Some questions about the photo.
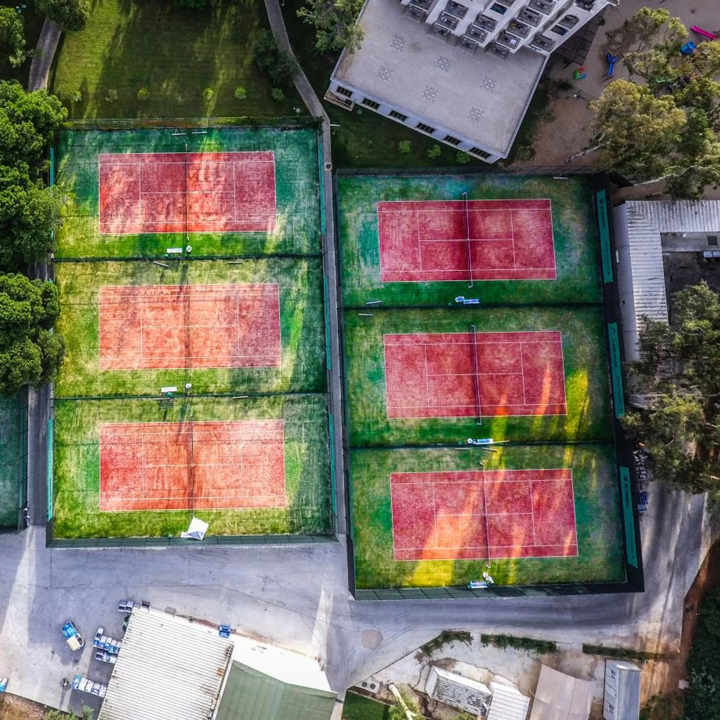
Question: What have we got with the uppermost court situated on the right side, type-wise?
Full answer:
From above, the uppermost court situated on the right side can be identified as a tennis court.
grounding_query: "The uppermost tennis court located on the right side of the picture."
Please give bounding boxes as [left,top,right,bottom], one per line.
[341,173,603,308]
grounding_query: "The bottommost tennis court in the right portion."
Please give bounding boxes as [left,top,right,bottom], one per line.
[354,442,627,589]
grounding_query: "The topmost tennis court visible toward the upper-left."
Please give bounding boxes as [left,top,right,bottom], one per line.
[55,129,323,260]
